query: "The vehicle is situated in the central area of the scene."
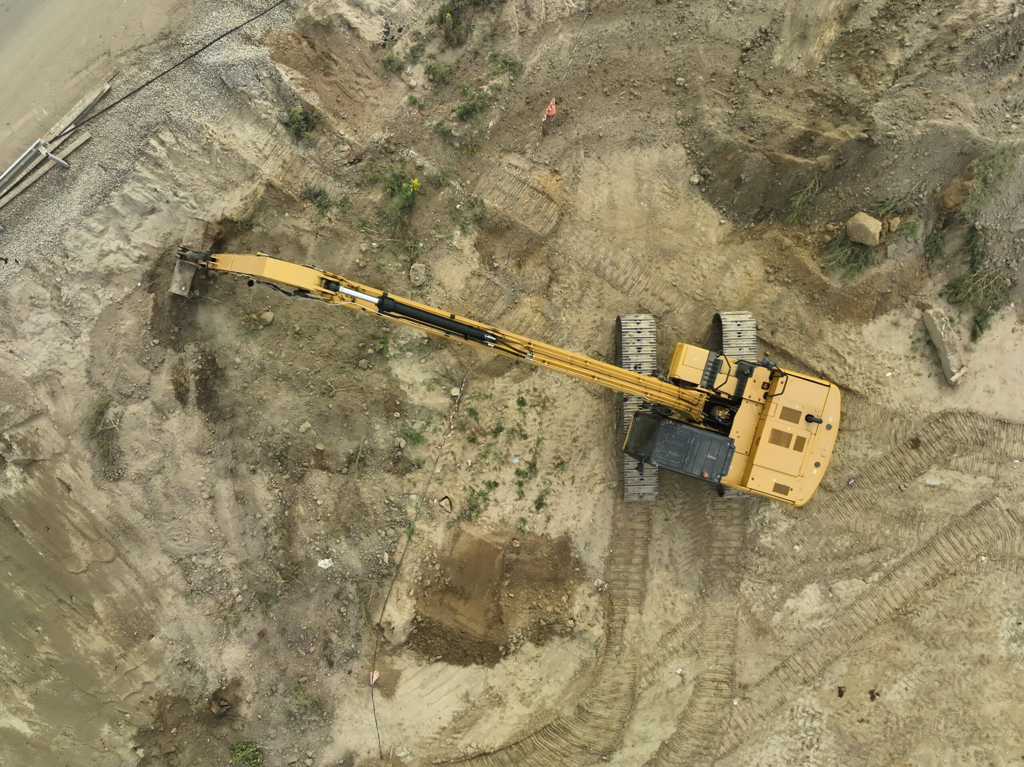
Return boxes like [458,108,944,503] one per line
[166,214,839,506]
